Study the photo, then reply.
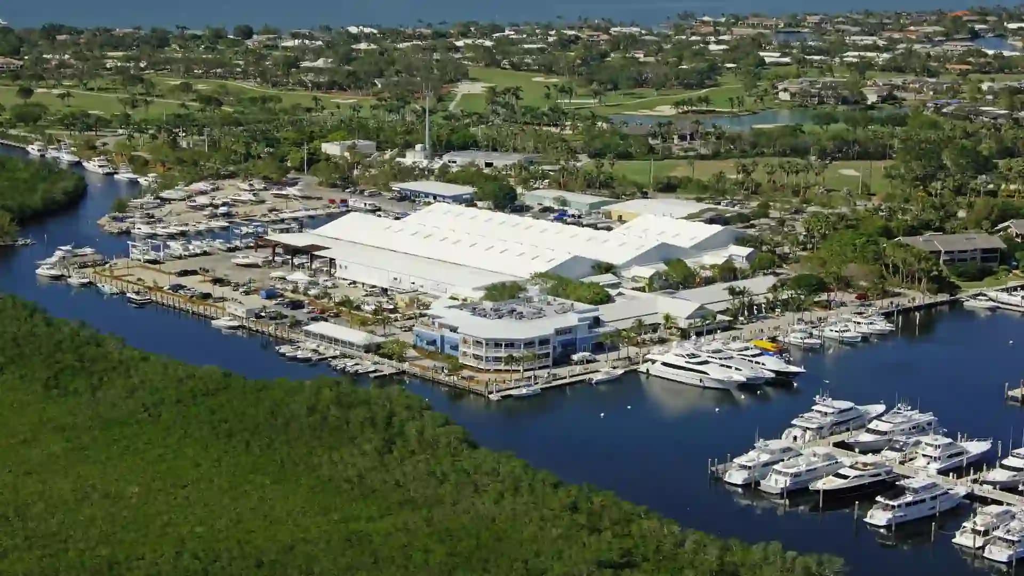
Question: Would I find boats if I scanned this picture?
Yes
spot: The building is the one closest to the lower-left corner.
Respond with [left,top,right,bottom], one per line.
[226,296,272,330]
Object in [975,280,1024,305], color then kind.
white boat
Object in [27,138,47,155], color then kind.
white boat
